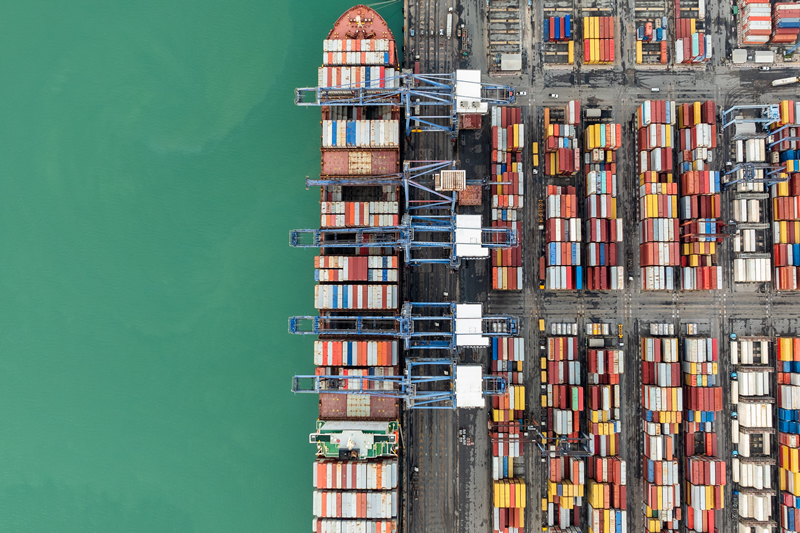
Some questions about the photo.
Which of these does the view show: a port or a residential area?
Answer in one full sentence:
What you see here is a port.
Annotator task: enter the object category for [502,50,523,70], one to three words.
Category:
shed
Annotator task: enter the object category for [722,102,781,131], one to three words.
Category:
container crane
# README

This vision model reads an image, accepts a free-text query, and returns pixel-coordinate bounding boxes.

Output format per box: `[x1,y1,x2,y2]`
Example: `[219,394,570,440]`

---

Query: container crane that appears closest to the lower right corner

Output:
[538,428,592,457]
